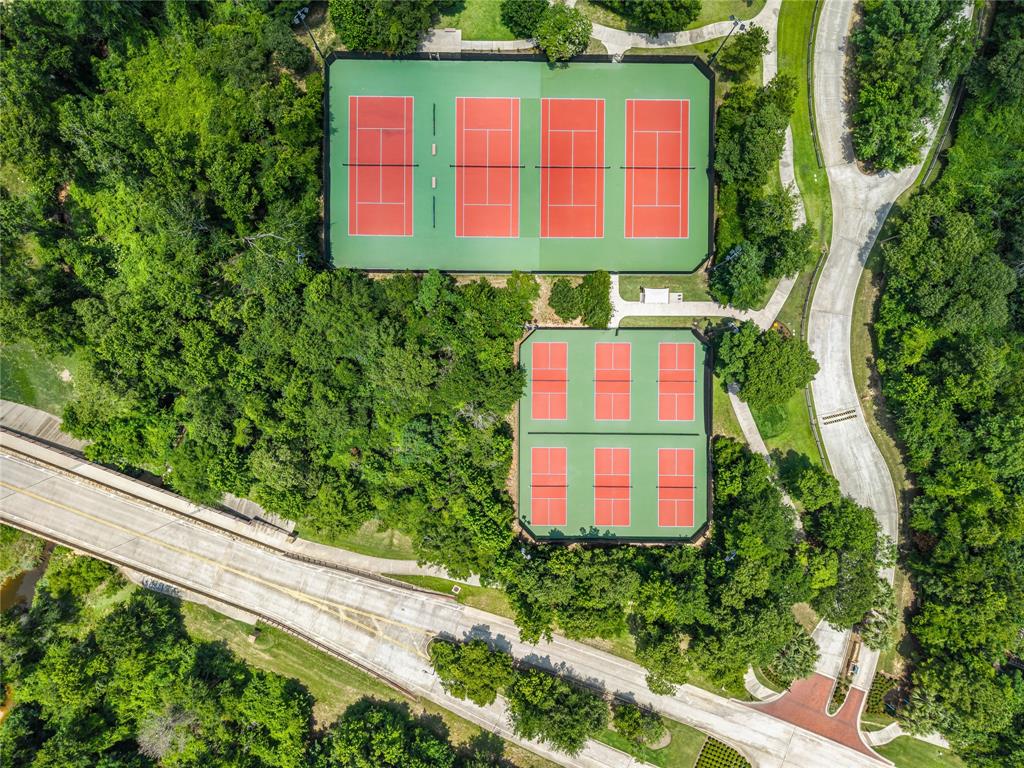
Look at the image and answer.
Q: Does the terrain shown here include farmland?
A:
No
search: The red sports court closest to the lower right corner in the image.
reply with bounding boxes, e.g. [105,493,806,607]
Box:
[658,448,695,527]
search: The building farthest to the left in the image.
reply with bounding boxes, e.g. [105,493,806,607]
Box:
[645,287,672,304]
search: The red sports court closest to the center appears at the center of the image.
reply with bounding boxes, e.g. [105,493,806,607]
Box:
[531,342,568,421]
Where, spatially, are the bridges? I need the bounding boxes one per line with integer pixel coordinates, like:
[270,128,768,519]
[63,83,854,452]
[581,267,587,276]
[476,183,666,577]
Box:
[0,426,285,620]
